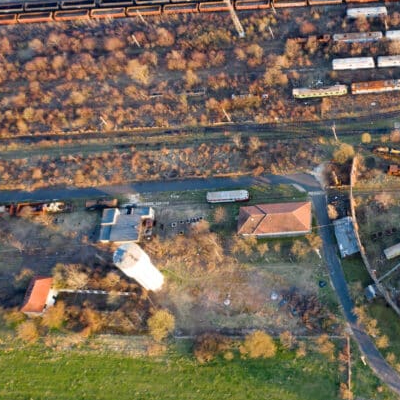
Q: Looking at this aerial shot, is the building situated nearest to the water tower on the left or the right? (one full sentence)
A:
You can find the building situated nearest to the water tower on the left side of the picture.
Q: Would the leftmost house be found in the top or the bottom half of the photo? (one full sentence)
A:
You can find the leftmost house in the bottom half.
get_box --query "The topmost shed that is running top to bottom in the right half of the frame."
[334,216,359,261]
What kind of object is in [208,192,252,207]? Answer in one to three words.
rail car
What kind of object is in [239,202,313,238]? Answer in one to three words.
house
